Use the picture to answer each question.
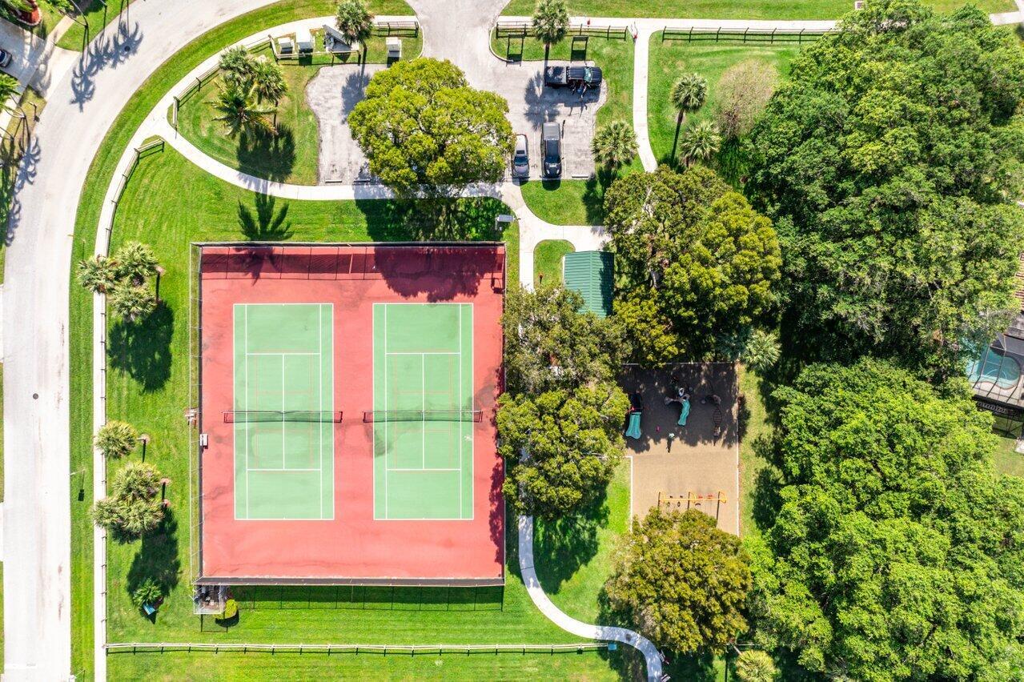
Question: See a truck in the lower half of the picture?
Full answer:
No, there's no truck to be seen in the lower half of the picture.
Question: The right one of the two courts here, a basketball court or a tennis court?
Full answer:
In the photo, the right one of the two courts shows up as a tennis court.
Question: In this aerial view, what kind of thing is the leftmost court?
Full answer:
The leftmost court in the image is a tennis court.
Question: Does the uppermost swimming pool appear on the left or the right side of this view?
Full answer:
The uppermost swimming pool appears in the right half of the scene.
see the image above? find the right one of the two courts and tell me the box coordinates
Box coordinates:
[353,246,505,578]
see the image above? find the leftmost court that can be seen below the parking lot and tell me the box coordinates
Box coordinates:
[201,246,353,578]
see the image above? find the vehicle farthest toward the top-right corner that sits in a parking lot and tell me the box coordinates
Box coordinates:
[546,62,602,93]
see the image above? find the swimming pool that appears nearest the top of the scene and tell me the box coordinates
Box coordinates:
[954,324,1024,407]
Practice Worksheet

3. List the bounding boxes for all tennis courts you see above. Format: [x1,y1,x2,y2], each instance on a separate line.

[201,246,353,578]
[353,246,505,578]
